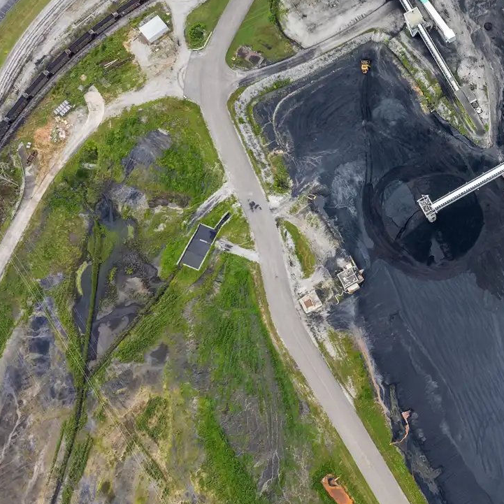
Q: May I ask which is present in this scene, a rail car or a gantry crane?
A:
rail car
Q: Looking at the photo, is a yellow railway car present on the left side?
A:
No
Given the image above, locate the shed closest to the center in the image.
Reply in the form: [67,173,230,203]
[300,290,324,314]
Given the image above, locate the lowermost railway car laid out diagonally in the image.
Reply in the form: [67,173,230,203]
[0,91,25,119]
